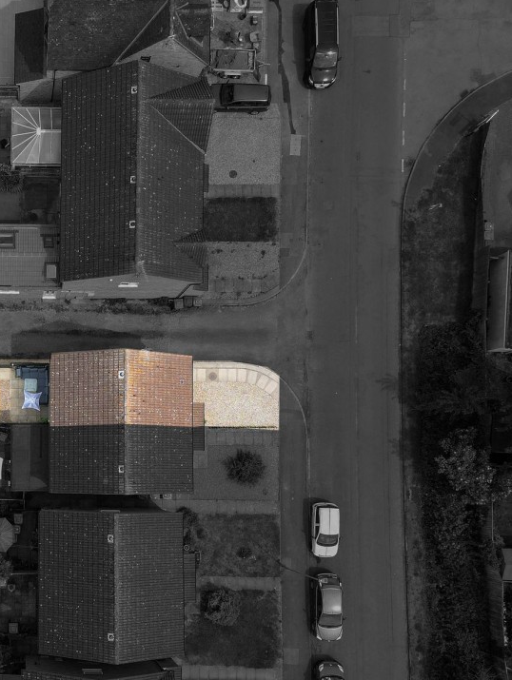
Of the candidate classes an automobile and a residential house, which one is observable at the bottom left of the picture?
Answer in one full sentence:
What appears at the bottom left of the picture is a residential house.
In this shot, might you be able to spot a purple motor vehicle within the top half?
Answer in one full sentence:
No, no purple motor vehicle can be made out within the top half.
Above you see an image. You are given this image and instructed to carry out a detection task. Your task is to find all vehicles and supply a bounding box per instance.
[302,0,342,89]
[311,658,347,680]
[212,81,273,116]
[308,501,341,558]
[310,572,345,640]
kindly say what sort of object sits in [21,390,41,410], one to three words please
umbrella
